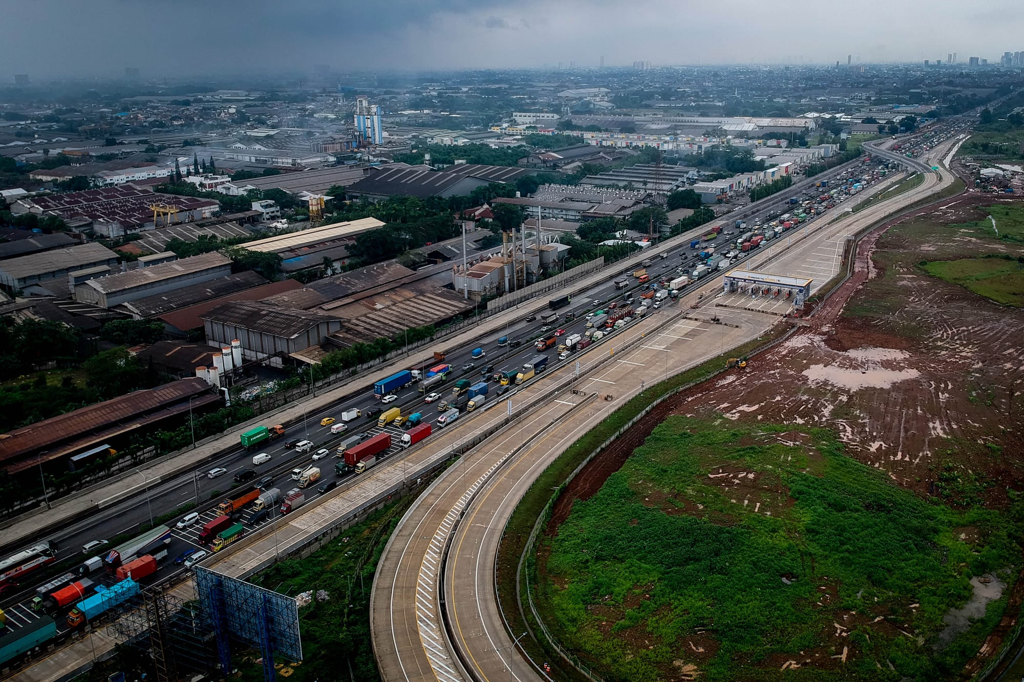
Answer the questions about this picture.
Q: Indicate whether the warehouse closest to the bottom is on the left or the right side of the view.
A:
left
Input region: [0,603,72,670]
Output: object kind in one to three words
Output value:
truck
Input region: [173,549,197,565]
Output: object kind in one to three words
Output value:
car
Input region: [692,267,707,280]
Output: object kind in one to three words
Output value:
vehicle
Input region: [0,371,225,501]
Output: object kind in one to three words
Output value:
warehouse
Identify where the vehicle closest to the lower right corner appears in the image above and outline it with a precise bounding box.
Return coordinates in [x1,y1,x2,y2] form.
[713,353,741,369]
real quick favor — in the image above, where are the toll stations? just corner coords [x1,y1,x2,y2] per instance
[724,267,818,306]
